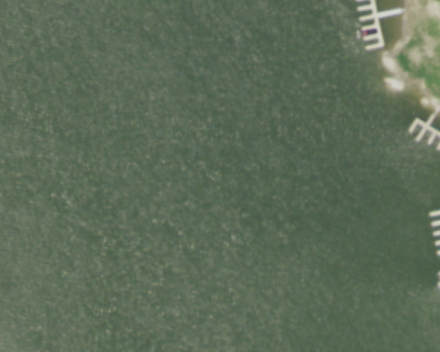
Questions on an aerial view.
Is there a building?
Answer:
No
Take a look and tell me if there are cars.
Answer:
No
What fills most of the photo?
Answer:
water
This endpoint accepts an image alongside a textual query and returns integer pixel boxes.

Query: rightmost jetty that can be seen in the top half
[408,107,440,151]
